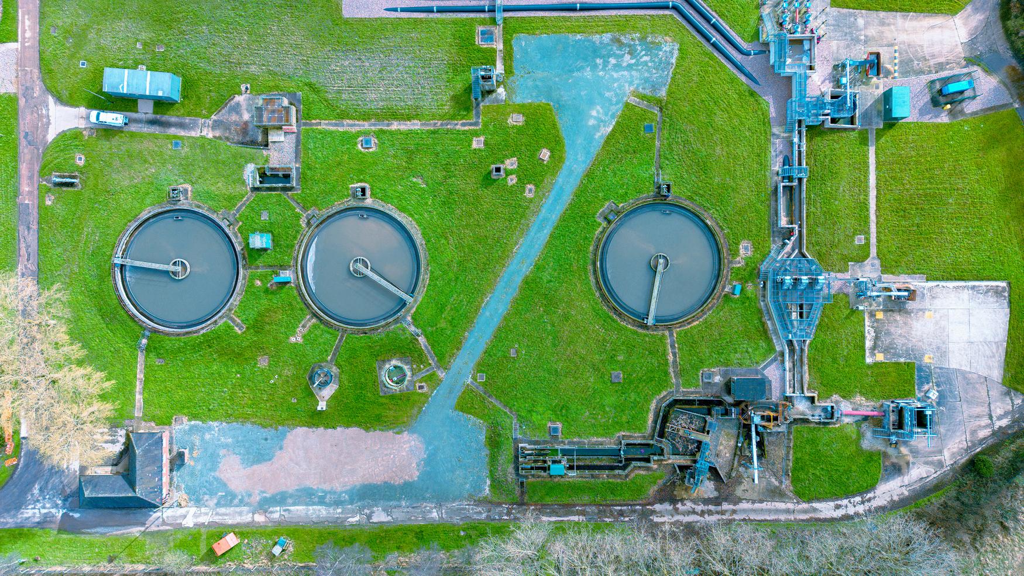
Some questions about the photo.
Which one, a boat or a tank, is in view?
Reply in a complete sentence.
It is a tank that can be seen here.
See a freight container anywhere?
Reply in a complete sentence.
Yes, I can see a freight container in this picture.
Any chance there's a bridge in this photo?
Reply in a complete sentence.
Yes, you can see a bridge in this photo.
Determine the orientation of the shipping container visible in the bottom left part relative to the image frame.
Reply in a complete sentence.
The shipping container visible in the bottom left part is laid out on a diagonal.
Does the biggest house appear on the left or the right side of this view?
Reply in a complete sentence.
The biggest house is on the left side of the image.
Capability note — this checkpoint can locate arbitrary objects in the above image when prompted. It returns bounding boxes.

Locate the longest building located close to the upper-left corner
[102,68,182,102]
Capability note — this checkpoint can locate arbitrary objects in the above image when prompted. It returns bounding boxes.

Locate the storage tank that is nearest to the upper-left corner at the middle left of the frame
[106,206,242,334]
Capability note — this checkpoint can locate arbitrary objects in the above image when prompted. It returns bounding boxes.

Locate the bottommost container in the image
[212,529,244,556]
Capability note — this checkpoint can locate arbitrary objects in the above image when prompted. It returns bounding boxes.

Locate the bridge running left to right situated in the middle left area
[106,253,180,272]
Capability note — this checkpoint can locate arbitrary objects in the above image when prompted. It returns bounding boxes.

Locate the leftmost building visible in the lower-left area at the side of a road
[79,432,170,508]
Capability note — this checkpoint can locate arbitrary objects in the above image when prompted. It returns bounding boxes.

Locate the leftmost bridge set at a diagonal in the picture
[353,261,416,307]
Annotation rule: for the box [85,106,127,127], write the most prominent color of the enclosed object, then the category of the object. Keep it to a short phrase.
white truck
